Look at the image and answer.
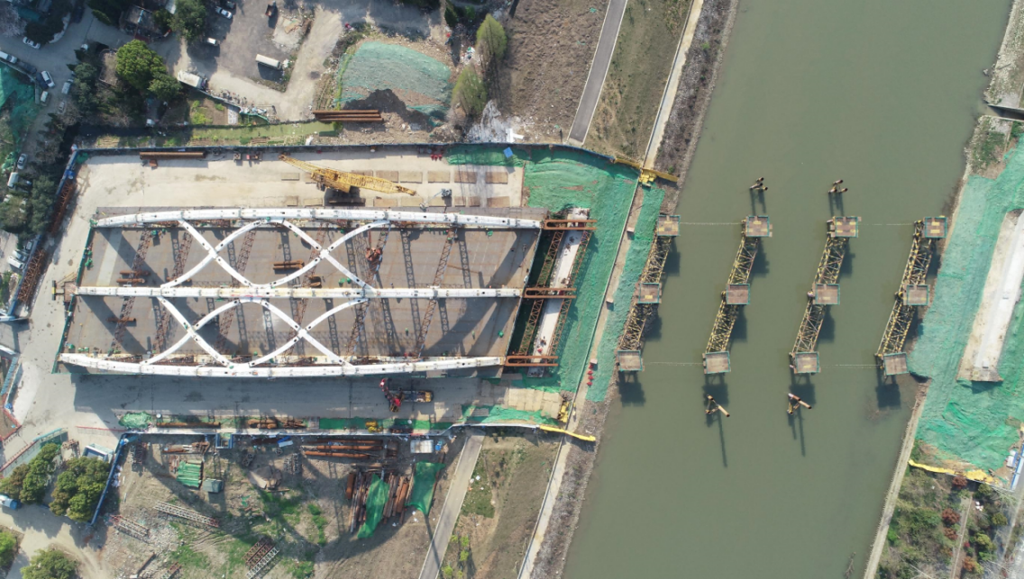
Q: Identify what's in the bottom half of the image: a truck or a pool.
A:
truck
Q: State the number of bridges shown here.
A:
1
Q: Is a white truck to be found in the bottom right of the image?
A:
No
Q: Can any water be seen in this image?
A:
Yes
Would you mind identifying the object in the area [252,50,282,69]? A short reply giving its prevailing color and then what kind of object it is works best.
white vehicle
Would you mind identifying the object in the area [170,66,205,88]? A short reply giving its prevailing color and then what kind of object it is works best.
white truck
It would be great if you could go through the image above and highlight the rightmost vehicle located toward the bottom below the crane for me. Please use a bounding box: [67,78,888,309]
[380,377,430,416]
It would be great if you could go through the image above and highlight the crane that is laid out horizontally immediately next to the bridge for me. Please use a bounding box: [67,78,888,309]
[277,154,415,197]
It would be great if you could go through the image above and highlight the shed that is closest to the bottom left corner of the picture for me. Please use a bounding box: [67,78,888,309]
[81,442,114,463]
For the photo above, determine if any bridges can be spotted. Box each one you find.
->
[50,208,553,376]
